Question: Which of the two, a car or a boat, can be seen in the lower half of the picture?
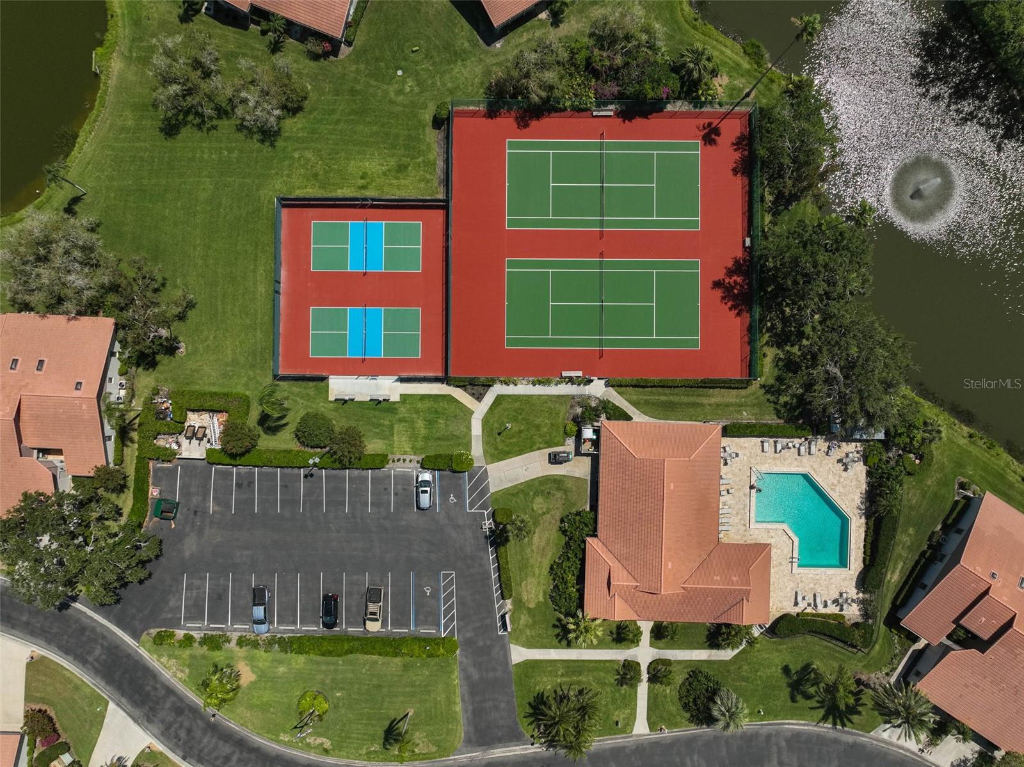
car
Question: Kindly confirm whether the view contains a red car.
No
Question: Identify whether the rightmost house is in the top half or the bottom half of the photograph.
bottom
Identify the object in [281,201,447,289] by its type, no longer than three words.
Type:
sports court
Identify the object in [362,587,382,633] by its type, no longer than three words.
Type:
vehicle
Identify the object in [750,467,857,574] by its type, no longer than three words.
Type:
swimming pool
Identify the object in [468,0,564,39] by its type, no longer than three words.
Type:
house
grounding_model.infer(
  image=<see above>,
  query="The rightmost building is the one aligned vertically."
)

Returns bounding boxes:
[895,491,1024,764]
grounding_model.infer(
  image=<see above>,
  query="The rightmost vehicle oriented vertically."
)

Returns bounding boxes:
[413,472,432,511]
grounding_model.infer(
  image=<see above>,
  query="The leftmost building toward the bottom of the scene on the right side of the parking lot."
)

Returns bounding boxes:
[585,420,772,624]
